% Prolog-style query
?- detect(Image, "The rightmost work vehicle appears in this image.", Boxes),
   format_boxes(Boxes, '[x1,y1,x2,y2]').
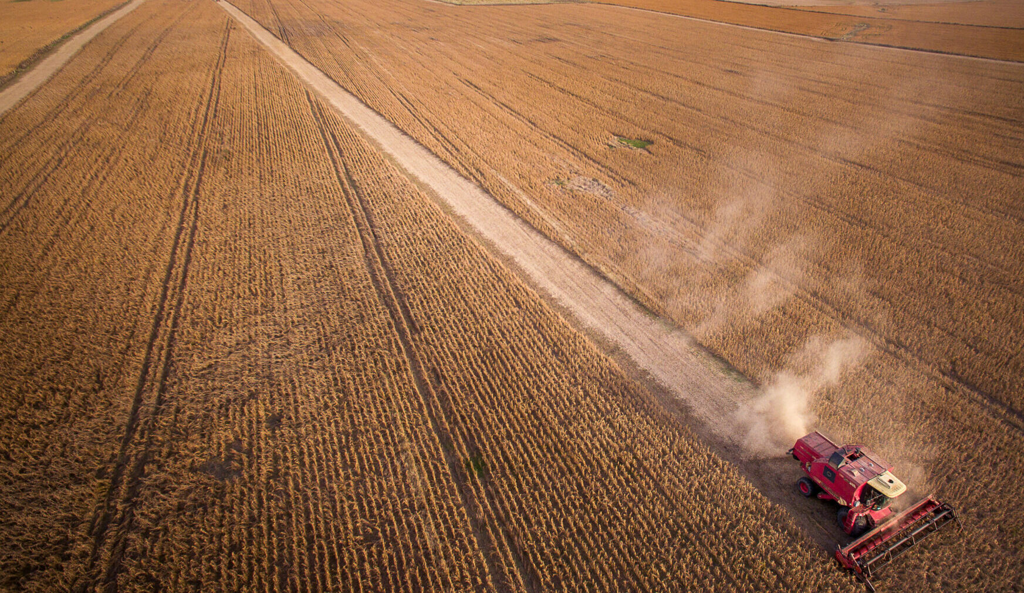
[784,429,965,593]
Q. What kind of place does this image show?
farmland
